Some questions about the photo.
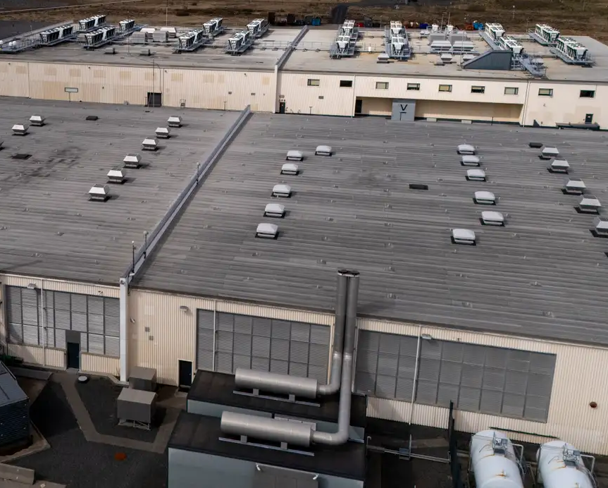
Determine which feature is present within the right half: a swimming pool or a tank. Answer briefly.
tank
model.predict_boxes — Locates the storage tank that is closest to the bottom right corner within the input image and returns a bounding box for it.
[530,448,602,488]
